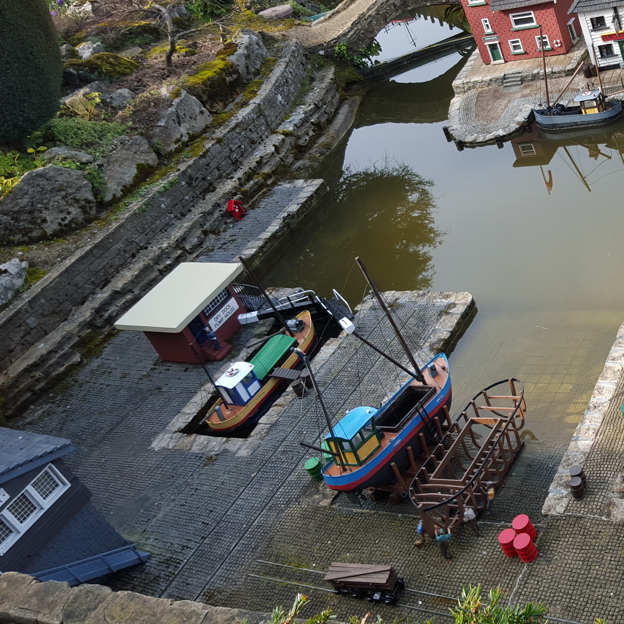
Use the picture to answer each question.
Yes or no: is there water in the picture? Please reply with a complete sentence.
Yes, water can be seen from above here.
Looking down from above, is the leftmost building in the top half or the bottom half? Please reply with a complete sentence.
It is in the bottom half that the leftmost building appears.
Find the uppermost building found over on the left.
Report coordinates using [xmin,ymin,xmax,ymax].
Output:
[100,267,252,360]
